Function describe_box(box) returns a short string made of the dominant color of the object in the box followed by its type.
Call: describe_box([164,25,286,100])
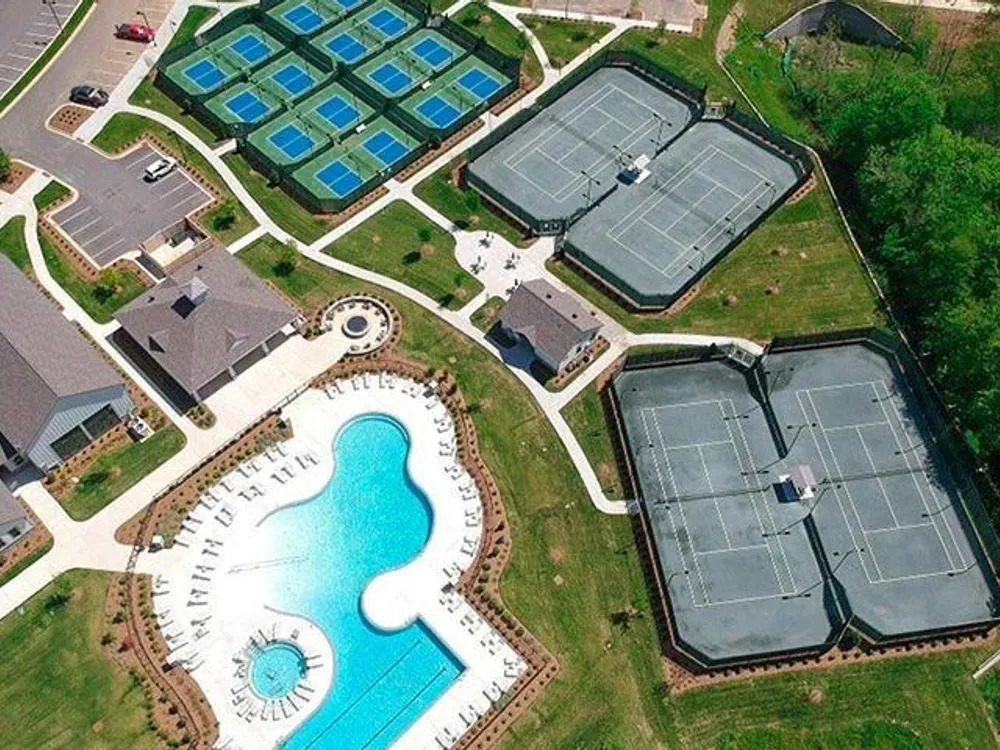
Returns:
green sports court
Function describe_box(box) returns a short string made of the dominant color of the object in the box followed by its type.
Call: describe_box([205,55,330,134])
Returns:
green sports court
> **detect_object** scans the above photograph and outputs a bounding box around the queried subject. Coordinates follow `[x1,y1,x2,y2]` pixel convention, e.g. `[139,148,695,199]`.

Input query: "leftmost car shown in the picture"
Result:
[70,87,105,105]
